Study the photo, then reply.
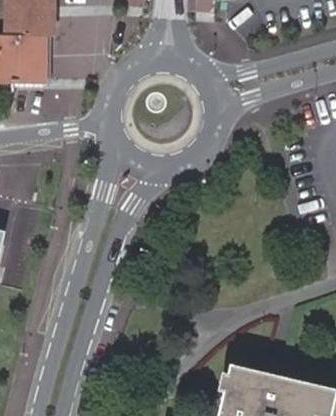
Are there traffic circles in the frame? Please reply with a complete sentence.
Yes, there's a traffic circle down there.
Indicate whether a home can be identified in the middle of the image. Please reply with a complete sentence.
No, the scene shows no home in the middle of the image.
